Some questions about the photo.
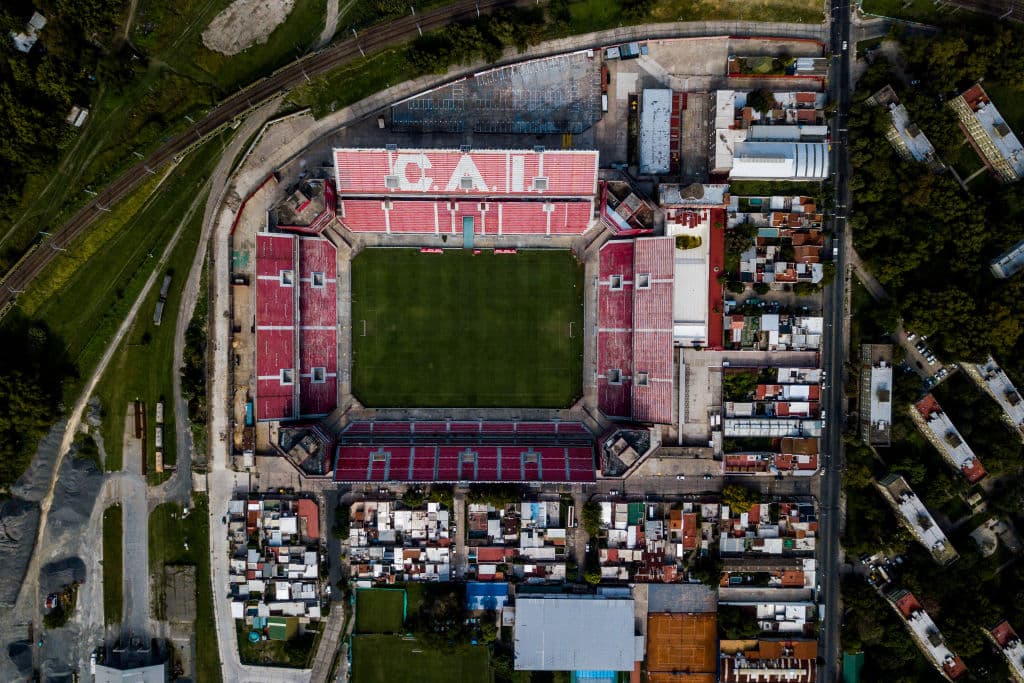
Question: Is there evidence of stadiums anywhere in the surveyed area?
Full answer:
Yes, the frame does contain a stadium.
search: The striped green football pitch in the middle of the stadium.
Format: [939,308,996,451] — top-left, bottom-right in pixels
[352,247,583,408]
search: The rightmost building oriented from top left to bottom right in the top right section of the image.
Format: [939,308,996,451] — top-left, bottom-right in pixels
[954,83,1024,180]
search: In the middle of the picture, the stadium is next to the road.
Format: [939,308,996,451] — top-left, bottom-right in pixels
[255,144,674,486]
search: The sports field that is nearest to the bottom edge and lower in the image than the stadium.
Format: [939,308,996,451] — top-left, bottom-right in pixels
[352,635,489,683]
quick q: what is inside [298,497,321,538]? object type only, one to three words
house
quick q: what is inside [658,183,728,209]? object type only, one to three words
building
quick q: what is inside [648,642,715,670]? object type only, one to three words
tennis court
